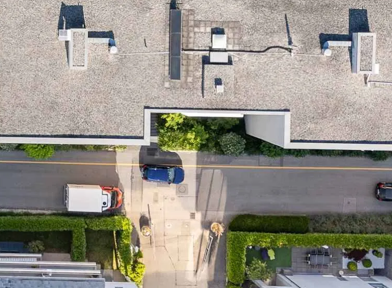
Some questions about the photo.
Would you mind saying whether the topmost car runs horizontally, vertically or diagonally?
horizontally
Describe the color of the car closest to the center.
blue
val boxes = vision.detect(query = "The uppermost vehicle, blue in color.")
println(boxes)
[140,164,183,186]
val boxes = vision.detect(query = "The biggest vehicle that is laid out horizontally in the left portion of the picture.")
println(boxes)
[64,185,127,215]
